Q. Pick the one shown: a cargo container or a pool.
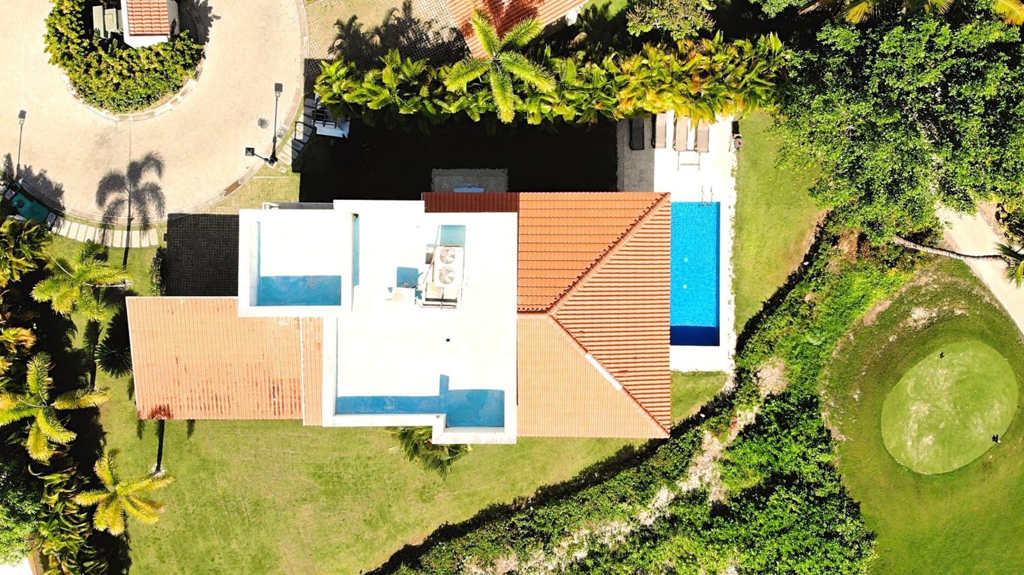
pool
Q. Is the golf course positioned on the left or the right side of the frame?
right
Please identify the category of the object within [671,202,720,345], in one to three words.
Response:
swimming pool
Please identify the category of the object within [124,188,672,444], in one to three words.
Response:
house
